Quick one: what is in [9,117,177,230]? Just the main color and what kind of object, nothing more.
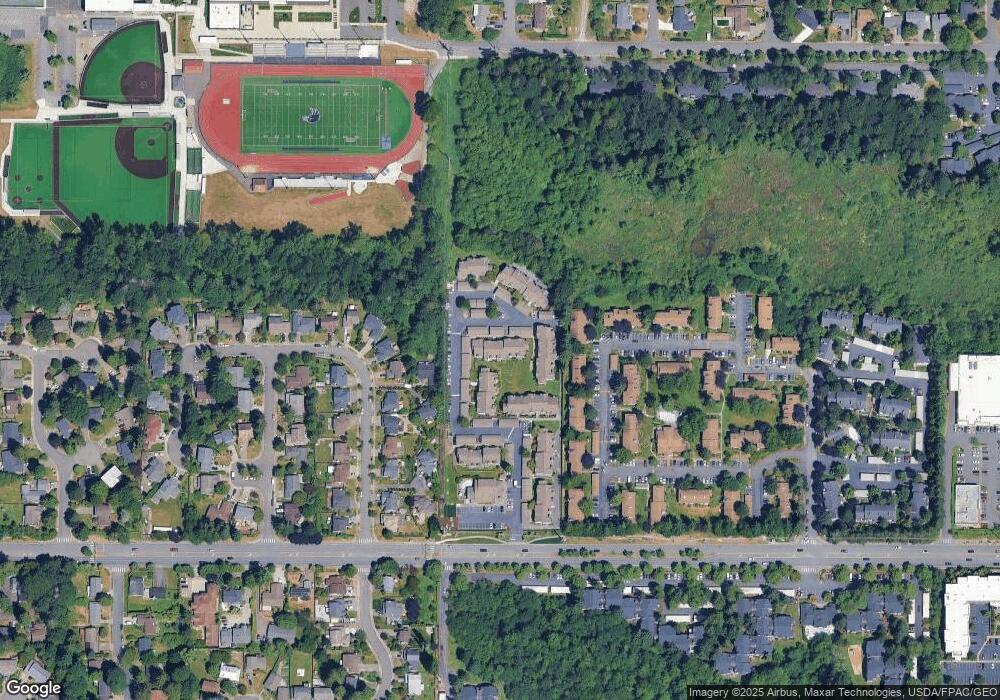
green baseball field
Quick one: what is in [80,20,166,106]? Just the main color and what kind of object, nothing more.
green baseball field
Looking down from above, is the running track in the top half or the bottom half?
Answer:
top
